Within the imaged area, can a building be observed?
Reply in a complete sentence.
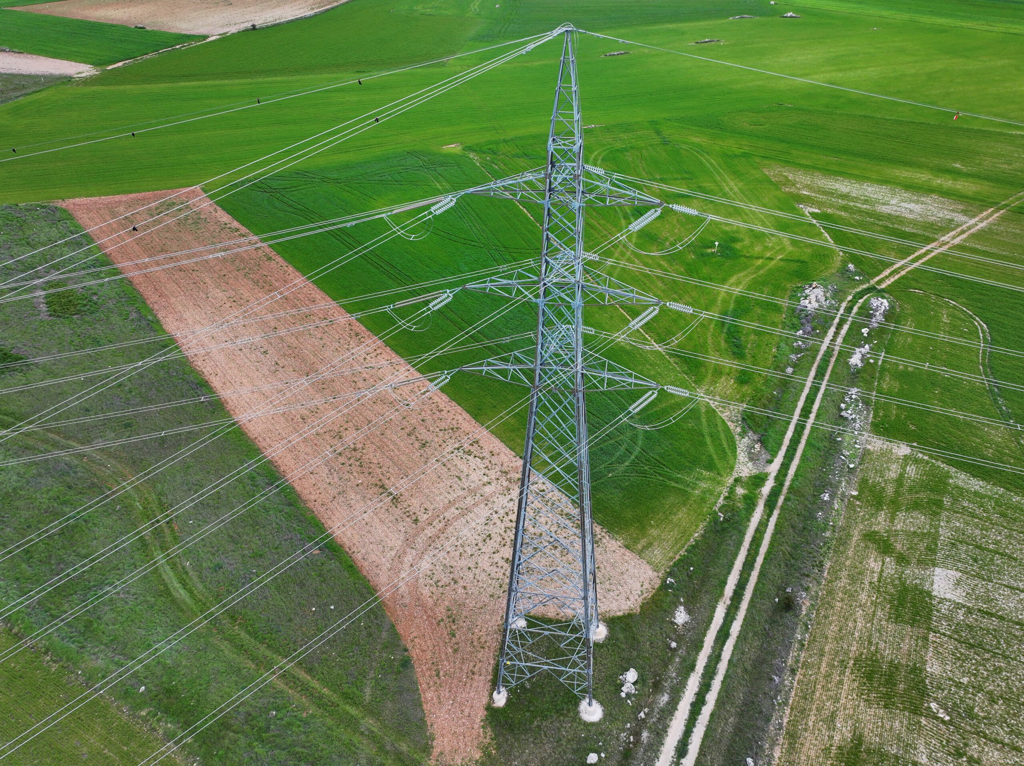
No, the scene contains no building.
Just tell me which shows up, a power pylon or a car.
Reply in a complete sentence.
I can see a power pylon in this picture.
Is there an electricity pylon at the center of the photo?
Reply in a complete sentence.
Yes, I can see an electricity pylon at the center of the photo.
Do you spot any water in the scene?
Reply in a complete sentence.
No, the scene doesn't show any water.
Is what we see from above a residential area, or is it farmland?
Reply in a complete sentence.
The area seen from above is farmland.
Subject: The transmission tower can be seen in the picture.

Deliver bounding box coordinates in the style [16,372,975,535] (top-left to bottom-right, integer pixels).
[459,24,663,717]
